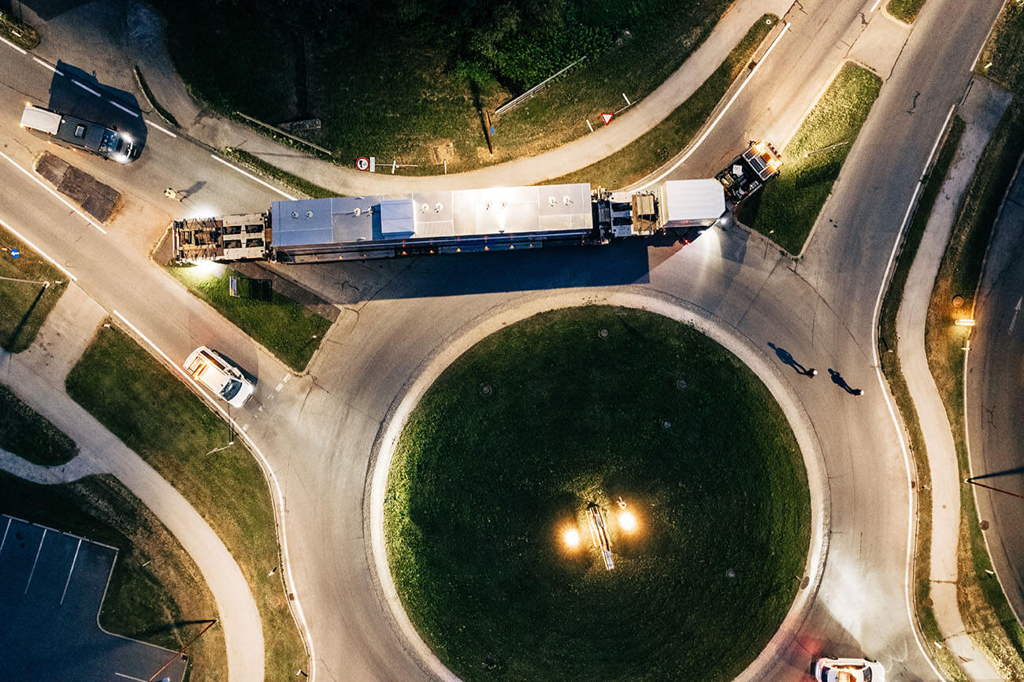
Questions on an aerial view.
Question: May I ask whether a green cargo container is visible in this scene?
No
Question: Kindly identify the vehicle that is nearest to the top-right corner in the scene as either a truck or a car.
truck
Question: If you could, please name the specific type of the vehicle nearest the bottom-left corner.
car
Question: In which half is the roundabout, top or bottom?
bottom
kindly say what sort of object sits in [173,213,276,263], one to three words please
trailer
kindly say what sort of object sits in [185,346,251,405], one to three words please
car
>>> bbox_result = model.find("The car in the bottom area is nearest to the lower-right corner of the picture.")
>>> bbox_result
[810,652,883,682]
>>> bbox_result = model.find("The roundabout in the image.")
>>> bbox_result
[284,206,910,682]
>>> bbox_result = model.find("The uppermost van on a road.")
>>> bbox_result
[10,94,140,161]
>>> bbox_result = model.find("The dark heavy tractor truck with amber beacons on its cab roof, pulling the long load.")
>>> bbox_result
[713,127,799,213]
